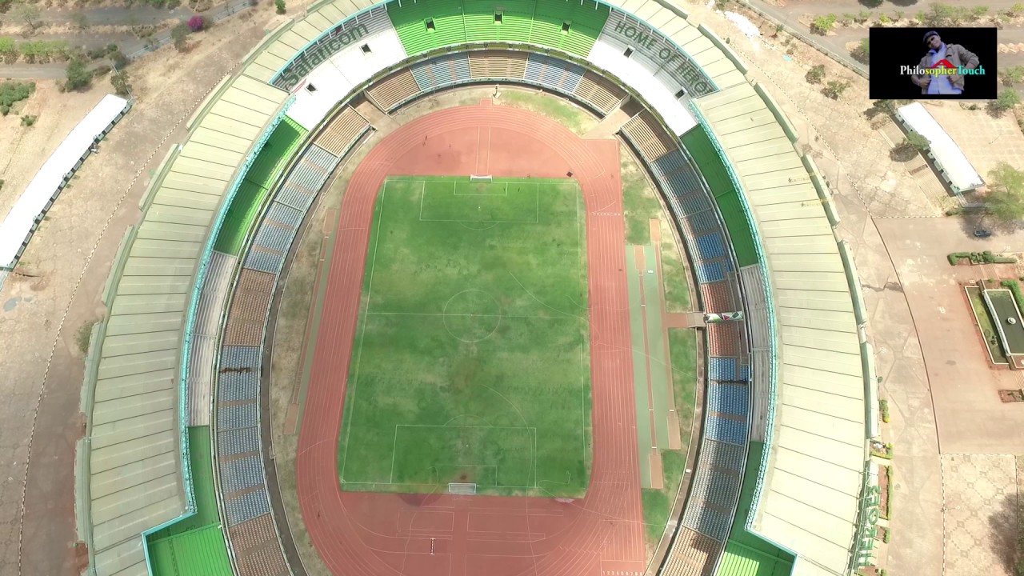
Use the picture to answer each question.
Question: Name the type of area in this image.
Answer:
sports ground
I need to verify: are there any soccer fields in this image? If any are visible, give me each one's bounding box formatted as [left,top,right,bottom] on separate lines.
[338,175,594,499]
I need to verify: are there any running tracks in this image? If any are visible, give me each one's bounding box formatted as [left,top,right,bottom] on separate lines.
[294,95,647,576]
